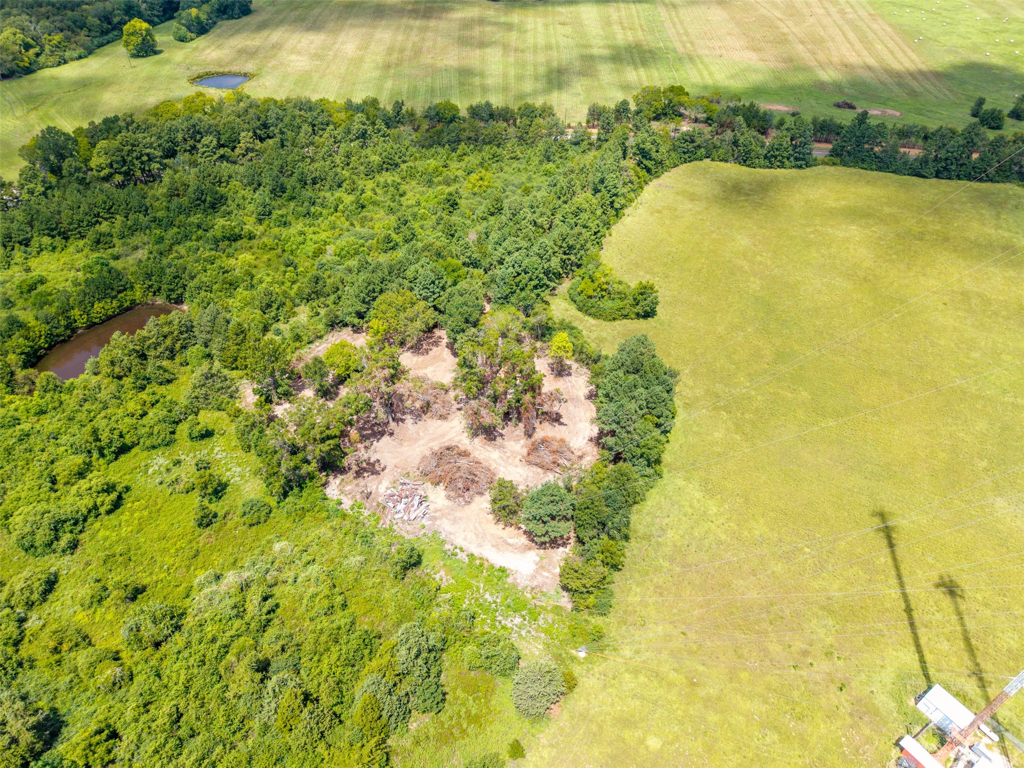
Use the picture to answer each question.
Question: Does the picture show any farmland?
Yes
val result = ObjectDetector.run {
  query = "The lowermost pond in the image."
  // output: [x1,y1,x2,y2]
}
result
[22,304,185,399]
